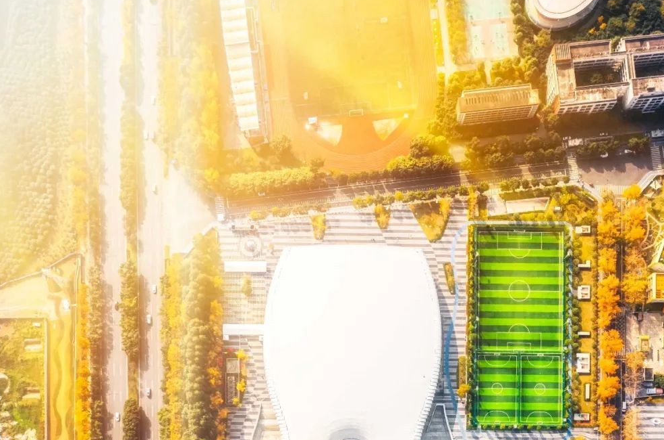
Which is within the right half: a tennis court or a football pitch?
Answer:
football pitch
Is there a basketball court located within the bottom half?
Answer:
No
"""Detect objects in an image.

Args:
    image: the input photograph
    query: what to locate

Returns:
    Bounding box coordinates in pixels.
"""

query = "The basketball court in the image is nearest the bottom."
[466,19,518,63]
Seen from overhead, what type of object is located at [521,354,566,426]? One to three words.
soccer field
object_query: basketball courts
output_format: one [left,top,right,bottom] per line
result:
[466,19,518,63]
[464,0,512,24]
